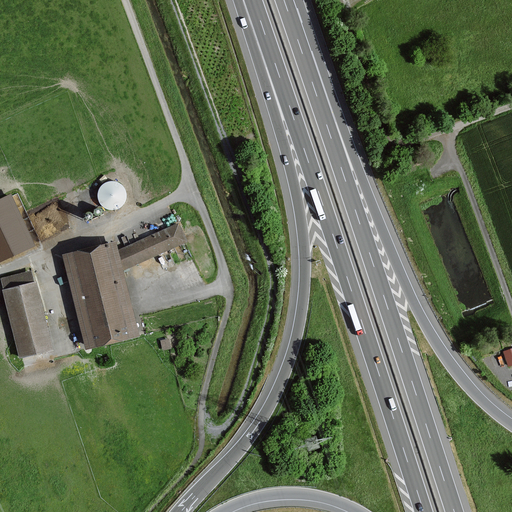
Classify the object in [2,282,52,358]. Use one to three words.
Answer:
shed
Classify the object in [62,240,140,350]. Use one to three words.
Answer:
barn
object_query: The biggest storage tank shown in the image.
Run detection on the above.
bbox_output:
[97,180,126,210]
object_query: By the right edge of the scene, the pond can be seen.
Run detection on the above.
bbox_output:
[424,196,491,316]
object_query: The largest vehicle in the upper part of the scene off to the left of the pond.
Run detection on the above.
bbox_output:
[309,188,326,220]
